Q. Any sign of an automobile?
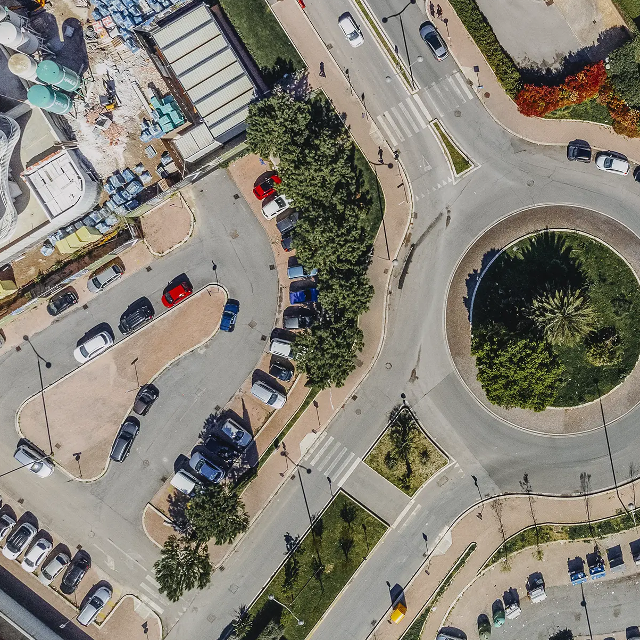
Yes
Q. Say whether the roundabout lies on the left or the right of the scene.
right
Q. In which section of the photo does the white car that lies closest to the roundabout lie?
top right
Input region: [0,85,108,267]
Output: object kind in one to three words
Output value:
building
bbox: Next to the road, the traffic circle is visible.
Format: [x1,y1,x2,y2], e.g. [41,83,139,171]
[443,203,640,436]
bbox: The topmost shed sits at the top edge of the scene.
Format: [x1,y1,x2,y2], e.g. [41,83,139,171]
[148,0,264,141]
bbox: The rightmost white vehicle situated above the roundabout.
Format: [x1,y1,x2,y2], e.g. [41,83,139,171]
[593,153,632,176]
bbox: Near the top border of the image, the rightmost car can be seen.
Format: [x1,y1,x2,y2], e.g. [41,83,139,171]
[419,22,449,63]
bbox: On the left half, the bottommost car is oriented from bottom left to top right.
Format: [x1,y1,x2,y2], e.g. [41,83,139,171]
[77,583,114,630]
